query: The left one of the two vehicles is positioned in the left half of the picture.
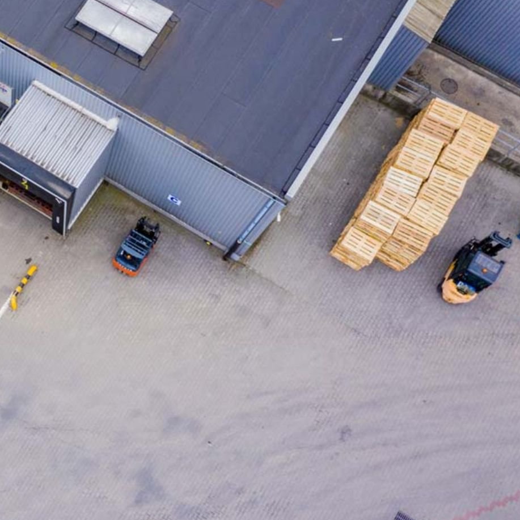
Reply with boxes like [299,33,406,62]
[114,214,163,275]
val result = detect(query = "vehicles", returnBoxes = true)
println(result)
[434,231,514,308]
[114,214,163,275]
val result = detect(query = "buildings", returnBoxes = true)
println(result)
[432,0,520,91]
[0,0,417,262]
